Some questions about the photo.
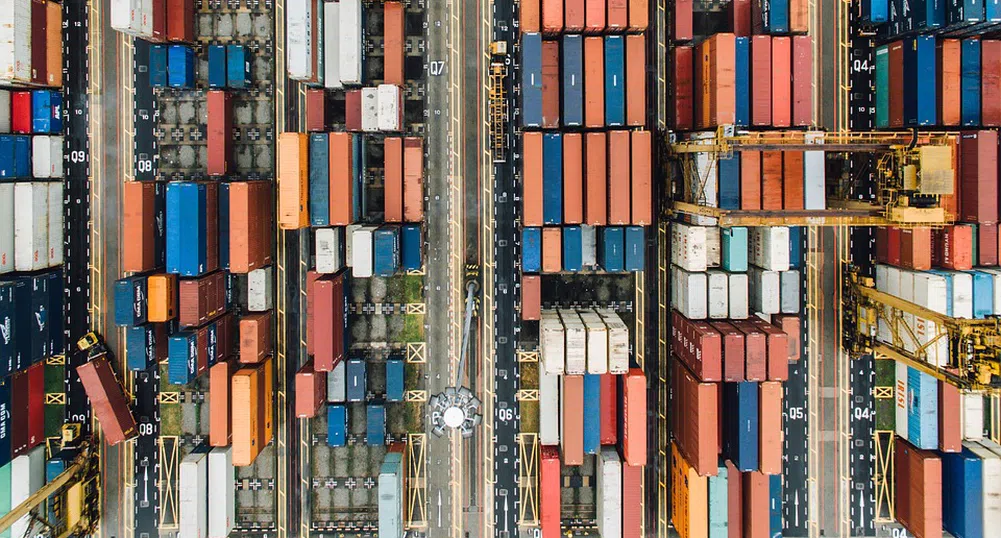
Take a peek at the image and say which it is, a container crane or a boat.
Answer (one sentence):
The image shows a container crane.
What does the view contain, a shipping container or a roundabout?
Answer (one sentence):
It is a shipping container that can be seen here.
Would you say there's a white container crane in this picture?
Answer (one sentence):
No, there appears to be no white container crane in this shot.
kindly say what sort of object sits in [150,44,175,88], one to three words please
shipping container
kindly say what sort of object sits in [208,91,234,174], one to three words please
shipping container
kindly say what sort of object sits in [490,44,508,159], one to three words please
vehicle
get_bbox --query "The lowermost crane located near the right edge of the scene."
[841,271,1001,403]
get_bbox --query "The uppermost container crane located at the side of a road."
[651,125,955,224]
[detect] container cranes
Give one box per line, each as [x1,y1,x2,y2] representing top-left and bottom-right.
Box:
[0,441,103,538]
[841,271,1001,403]
[651,125,955,224]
